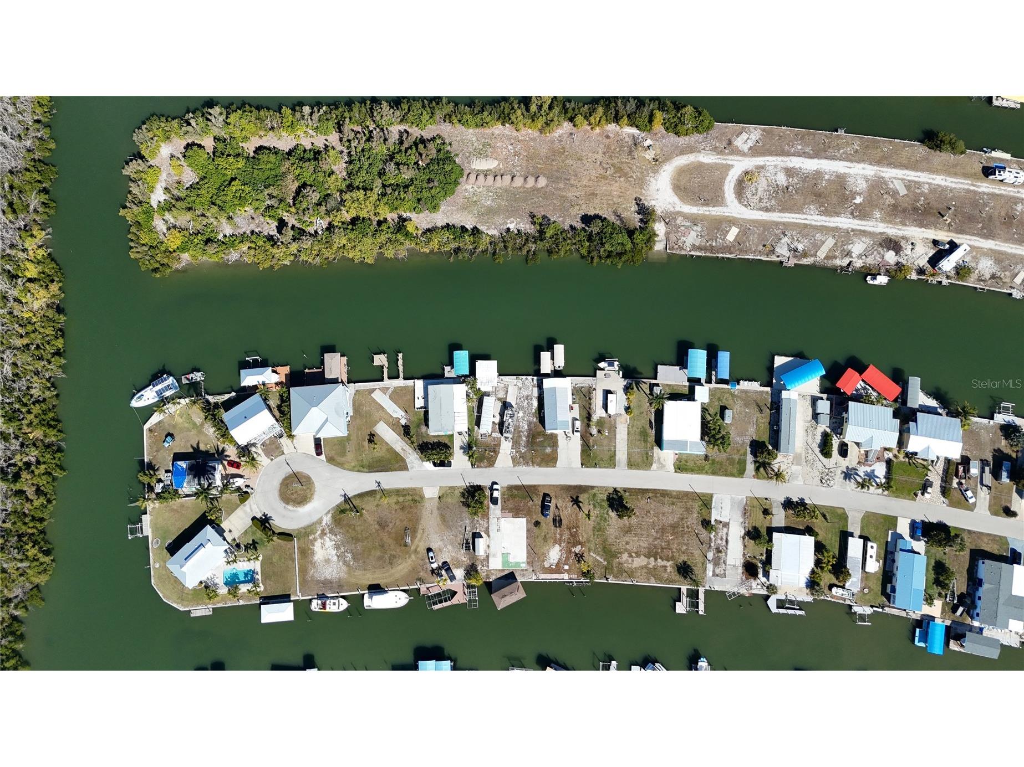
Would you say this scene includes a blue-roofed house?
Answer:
Yes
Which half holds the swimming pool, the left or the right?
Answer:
left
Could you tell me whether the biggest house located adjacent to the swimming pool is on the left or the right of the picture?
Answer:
left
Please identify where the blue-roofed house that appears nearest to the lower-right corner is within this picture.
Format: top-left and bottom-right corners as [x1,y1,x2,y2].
[884,539,927,612]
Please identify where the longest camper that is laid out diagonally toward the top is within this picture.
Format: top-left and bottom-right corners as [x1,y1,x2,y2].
[939,238,979,272]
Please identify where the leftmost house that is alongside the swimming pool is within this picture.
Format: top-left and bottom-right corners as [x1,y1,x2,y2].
[166,525,236,589]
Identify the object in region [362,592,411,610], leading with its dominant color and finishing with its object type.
white boat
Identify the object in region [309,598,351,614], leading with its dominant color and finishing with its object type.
white boat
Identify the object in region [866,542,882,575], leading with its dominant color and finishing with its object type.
white camper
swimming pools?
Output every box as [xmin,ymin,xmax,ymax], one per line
[223,568,255,588]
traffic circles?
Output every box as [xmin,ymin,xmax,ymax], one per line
[278,471,314,507]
